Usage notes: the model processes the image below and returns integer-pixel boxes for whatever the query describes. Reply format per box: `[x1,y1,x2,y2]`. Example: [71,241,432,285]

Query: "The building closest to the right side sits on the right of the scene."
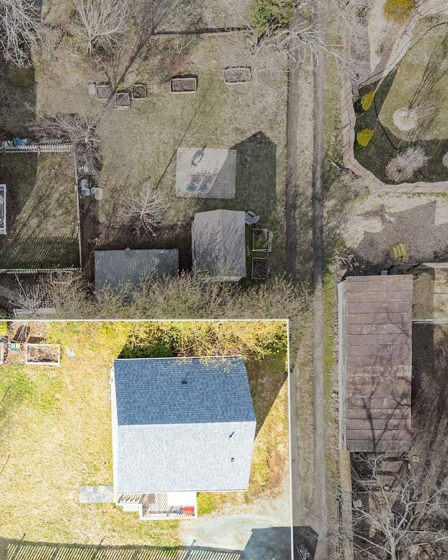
[334,275,413,451]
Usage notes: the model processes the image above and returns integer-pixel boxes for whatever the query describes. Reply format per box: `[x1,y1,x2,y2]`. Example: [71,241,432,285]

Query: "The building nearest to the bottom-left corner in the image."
[109,357,257,494]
